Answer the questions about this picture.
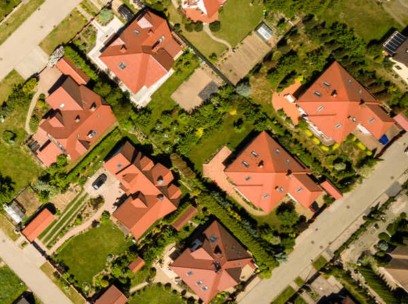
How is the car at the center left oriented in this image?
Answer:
at an angle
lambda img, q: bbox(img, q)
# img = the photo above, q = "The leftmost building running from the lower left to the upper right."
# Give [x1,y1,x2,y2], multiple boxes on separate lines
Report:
[21,208,55,242]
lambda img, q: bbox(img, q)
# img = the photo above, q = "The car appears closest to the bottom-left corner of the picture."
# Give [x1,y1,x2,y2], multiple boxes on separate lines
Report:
[88,170,110,193]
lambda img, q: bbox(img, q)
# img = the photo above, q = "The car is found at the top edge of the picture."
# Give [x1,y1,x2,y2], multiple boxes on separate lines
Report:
[115,0,137,24]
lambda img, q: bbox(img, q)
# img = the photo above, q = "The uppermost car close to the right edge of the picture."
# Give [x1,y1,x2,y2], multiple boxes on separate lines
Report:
[372,134,393,148]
